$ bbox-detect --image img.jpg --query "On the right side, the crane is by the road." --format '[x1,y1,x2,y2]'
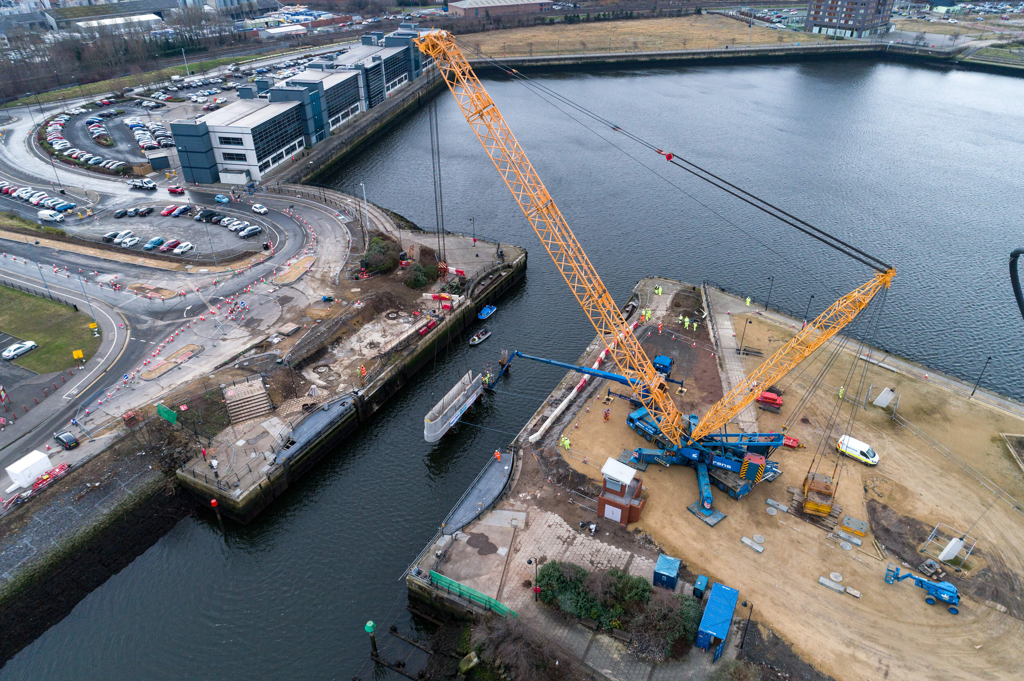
[400,37,896,517]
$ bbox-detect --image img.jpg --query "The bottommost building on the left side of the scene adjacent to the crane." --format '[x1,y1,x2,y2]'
[168,27,434,185]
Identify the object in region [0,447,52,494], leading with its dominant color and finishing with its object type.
white trailer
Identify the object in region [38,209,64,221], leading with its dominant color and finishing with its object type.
white vehicle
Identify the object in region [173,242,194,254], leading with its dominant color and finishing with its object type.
white vehicle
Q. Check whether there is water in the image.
Yes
